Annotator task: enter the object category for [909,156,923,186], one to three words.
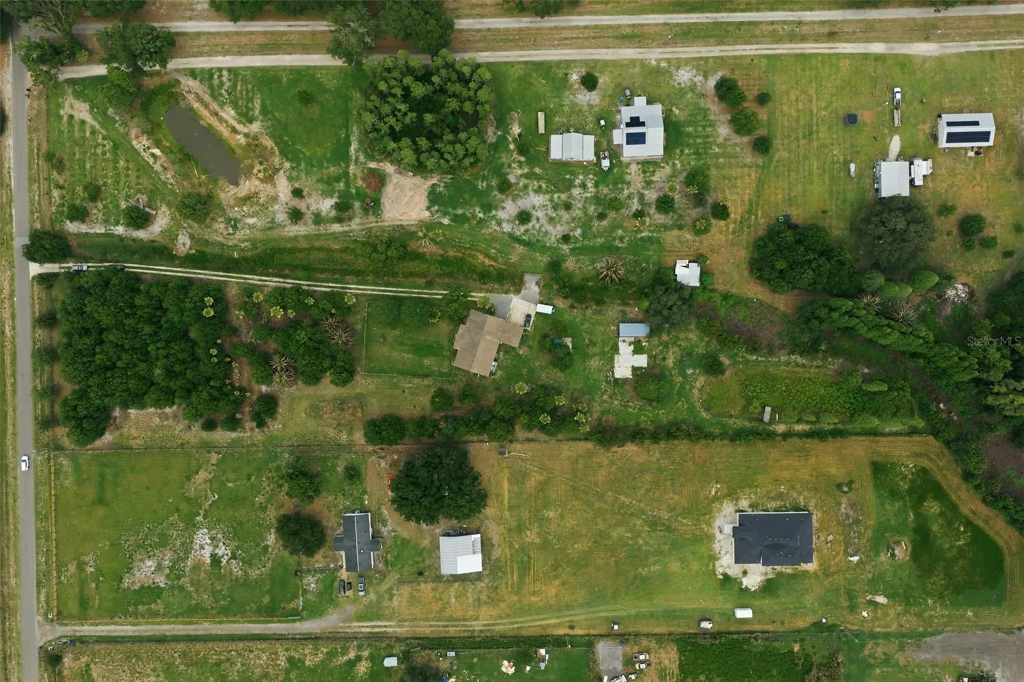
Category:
camper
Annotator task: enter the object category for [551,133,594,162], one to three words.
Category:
shed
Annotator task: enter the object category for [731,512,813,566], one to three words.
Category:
house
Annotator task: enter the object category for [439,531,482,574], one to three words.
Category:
barn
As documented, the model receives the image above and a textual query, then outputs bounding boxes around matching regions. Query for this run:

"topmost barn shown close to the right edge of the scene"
[935,112,996,149]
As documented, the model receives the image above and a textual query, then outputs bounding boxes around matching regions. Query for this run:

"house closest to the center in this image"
[454,309,524,377]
